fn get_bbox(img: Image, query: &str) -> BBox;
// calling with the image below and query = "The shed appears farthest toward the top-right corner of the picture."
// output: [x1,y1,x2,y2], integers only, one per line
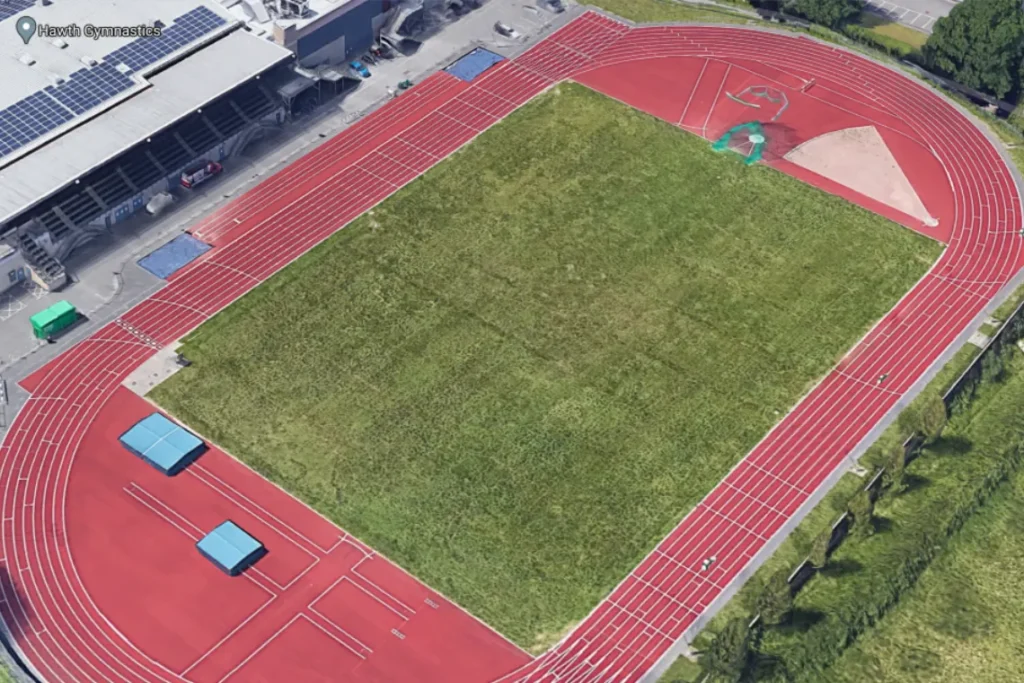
[963,92,992,116]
